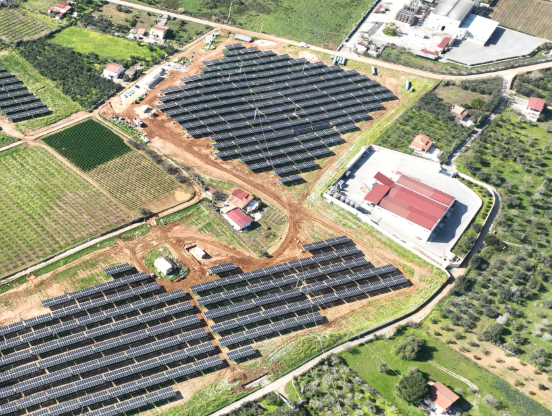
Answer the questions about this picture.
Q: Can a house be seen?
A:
Yes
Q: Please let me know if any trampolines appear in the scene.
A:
No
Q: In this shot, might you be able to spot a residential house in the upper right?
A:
Yes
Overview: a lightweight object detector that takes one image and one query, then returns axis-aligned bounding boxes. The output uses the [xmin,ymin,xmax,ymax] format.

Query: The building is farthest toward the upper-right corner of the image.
[461,14,500,43]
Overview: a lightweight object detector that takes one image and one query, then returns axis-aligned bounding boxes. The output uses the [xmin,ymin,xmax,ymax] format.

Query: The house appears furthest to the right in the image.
[521,98,545,123]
